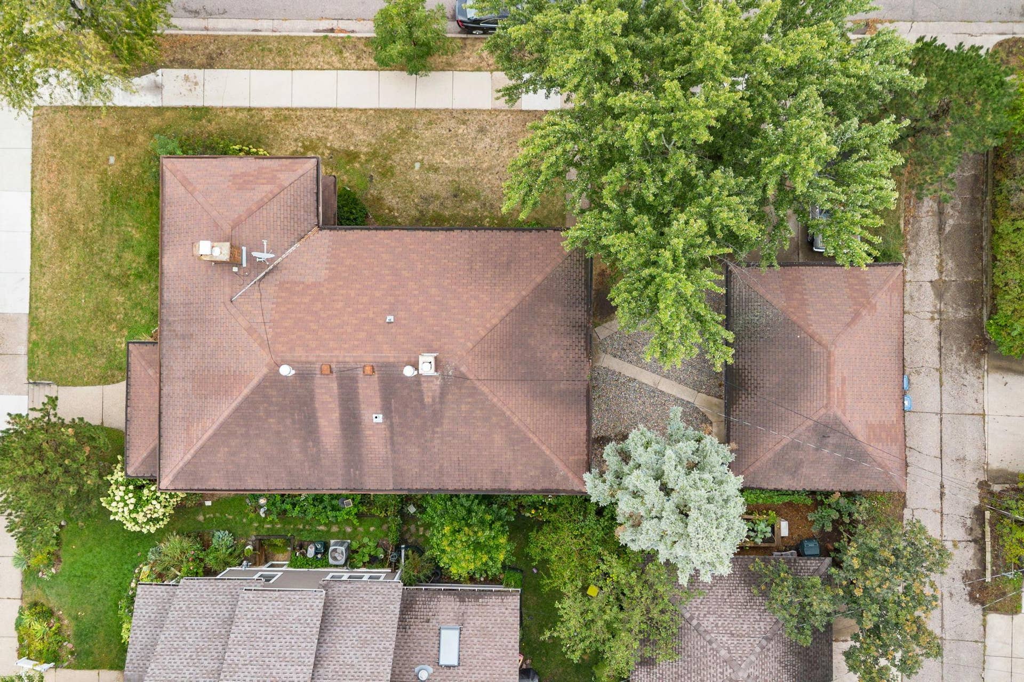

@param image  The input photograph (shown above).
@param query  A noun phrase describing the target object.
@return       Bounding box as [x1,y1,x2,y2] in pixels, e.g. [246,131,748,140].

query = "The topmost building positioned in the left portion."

[126,156,594,493]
